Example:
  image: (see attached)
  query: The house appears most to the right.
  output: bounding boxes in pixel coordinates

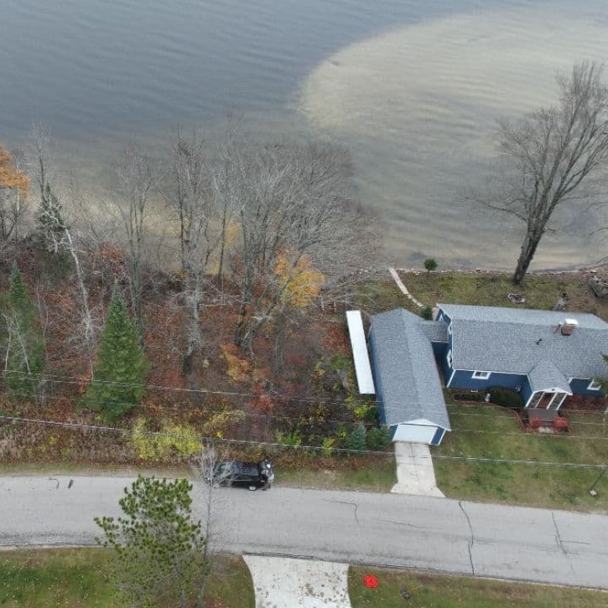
[420,302,608,425]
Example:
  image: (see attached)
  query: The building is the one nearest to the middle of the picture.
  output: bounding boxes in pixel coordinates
[365,308,451,448]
